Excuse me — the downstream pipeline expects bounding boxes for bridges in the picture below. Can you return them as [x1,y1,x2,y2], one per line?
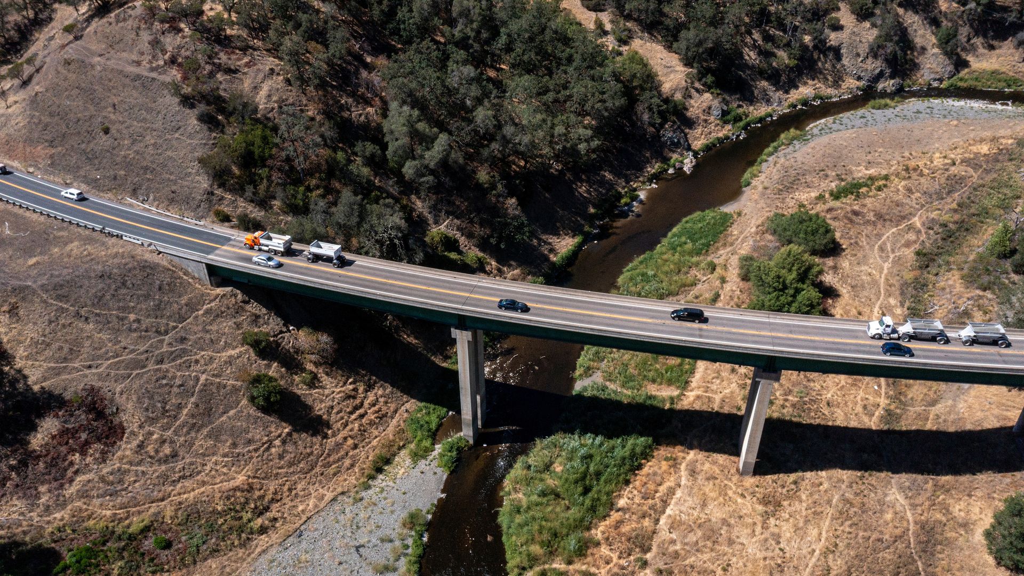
[145,221,1024,470]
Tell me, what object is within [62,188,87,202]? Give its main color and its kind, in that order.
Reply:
white car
